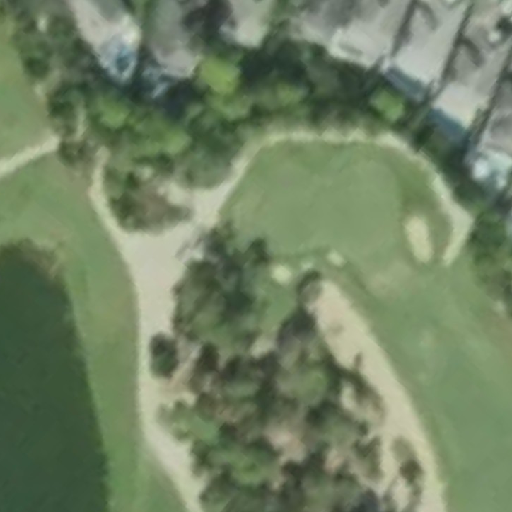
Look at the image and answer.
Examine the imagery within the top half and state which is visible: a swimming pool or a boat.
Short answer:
swimming pool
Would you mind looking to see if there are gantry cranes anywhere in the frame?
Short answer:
No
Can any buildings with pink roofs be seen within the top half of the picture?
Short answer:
No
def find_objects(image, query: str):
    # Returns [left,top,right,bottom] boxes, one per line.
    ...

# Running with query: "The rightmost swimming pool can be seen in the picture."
[473,153,512,190]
